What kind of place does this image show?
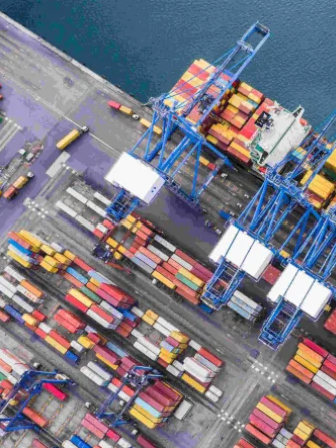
port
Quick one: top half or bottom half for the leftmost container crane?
bottom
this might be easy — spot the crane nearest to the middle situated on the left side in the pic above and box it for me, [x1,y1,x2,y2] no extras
[83,212,159,274]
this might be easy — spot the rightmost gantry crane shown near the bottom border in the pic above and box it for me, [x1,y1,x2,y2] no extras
[89,361,168,437]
